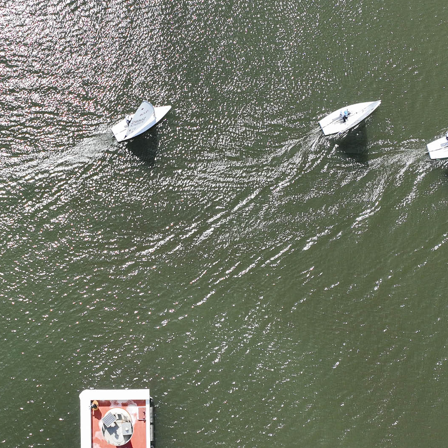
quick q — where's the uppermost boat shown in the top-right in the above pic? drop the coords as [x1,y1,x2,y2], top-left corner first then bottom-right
[317,96,381,135]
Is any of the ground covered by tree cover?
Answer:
No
